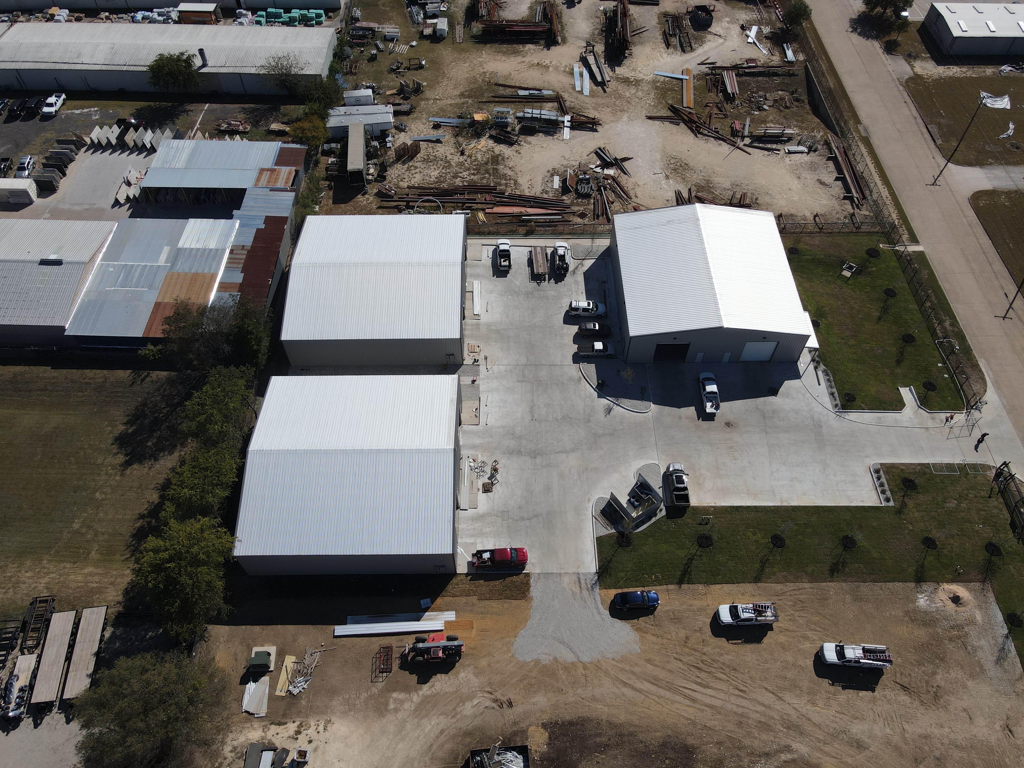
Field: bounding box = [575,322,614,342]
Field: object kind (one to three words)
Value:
car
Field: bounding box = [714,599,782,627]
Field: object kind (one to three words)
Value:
truck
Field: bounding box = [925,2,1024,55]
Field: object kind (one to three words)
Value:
building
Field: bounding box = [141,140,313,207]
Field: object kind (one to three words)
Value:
shed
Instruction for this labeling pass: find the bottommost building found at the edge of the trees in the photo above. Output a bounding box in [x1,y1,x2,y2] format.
[231,373,462,577]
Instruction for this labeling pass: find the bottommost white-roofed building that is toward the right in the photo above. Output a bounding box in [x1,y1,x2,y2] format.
[609,202,819,364]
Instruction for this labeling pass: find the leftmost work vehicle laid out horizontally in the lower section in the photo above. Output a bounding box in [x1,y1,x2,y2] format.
[394,634,465,667]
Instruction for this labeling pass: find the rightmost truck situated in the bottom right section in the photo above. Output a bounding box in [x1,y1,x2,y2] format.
[820,638,894,669]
